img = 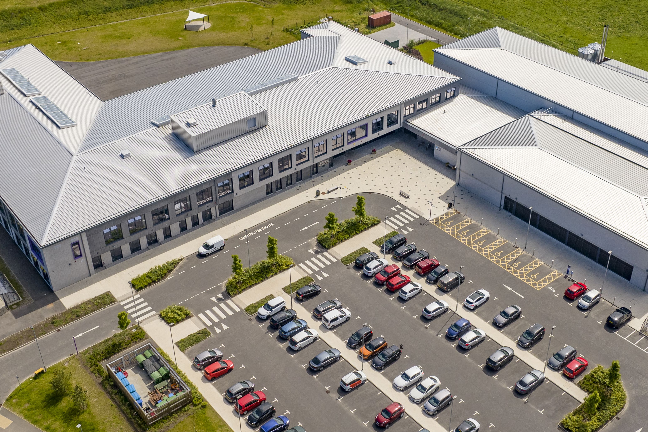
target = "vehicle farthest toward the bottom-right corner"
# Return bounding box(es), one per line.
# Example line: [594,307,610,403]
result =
[561,359,590,382]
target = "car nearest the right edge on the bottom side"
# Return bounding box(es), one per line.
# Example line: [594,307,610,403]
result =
[604,308,633,330]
